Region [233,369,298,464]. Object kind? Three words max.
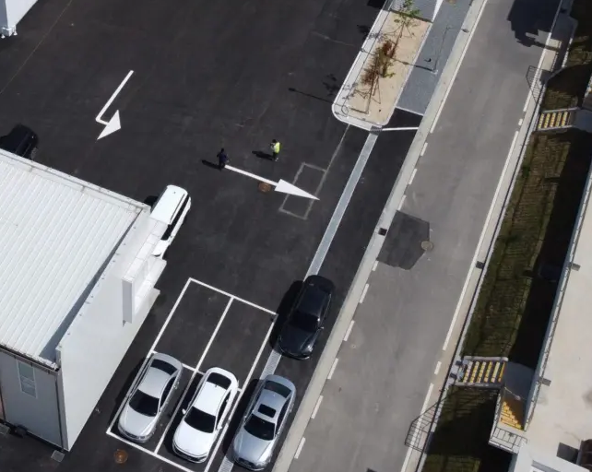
car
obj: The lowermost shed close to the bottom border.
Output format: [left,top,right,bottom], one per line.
[519,446,574,472]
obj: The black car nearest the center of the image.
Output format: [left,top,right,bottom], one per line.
[276,276,335,359]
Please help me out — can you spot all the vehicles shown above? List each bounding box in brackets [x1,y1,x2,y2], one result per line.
[2,125,46,159]
[174,366,240,461]
[114,353,183,447]
[276,276,335,359]
[155,183,195,259]
[233,369,298,464]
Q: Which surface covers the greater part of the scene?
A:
paved ground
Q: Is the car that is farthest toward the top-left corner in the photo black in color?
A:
Yes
